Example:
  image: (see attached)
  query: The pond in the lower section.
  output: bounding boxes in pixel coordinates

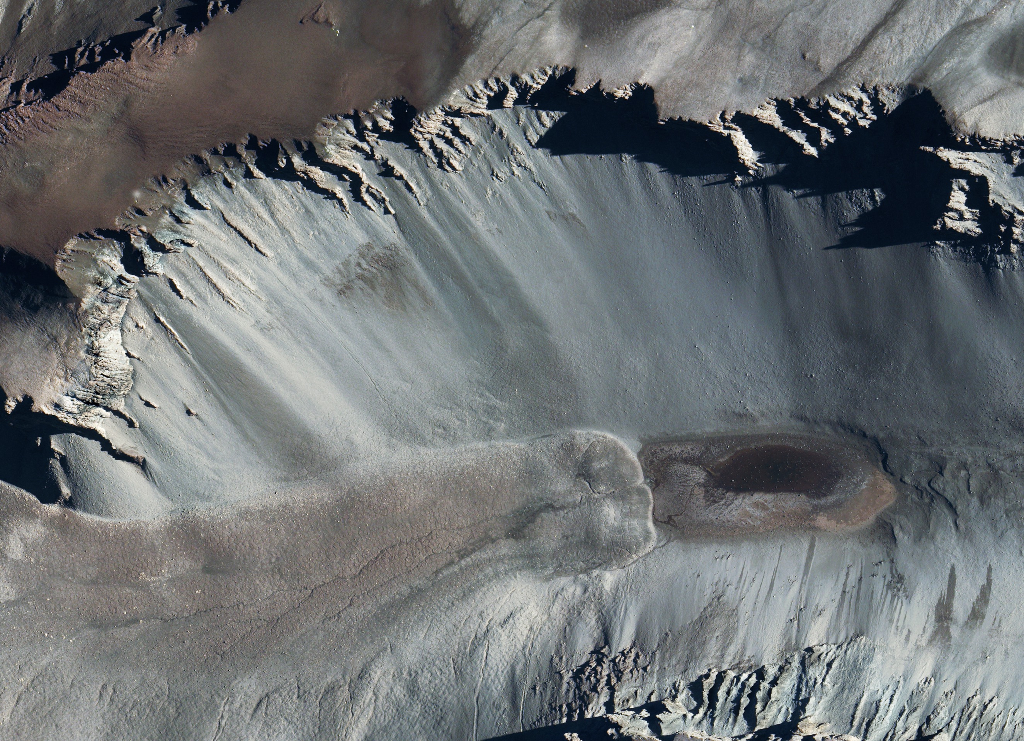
[709,445,840,497]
